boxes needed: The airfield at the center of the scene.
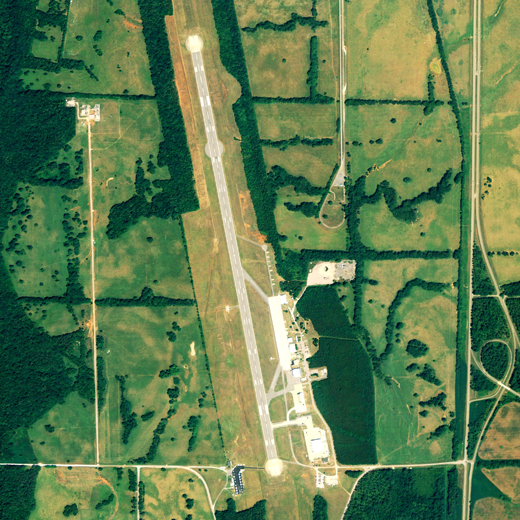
[186,36,330,476]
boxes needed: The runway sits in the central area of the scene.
[192,50,278,462]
